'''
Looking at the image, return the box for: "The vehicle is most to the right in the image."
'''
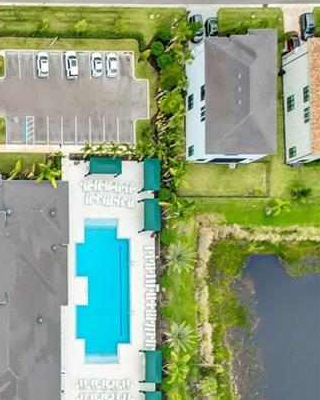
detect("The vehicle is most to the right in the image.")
[299,13,315,42]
